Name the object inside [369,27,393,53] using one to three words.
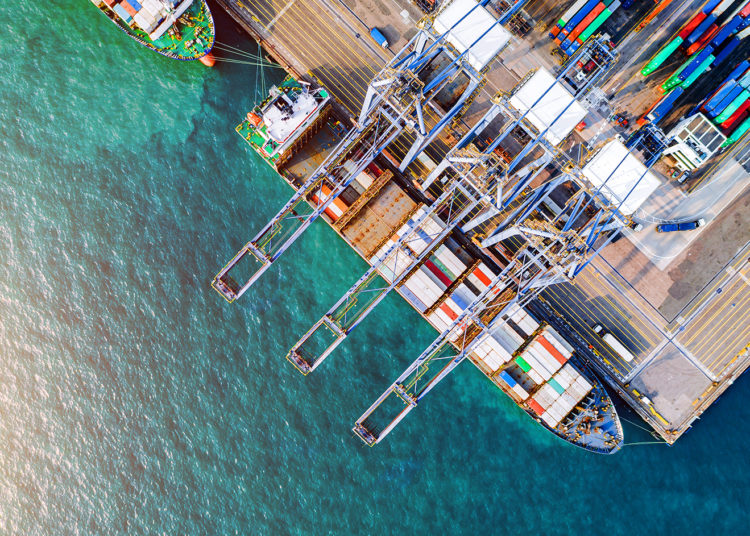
truck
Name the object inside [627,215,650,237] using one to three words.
truck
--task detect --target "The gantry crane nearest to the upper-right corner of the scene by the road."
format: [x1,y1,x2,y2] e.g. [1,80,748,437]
[648,112,728,181]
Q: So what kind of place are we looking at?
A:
port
